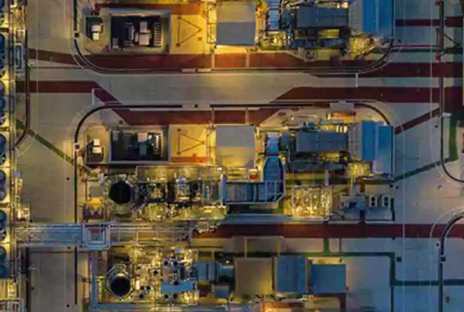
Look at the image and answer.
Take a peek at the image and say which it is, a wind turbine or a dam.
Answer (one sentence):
Looking from above, you can make out a wind turbine.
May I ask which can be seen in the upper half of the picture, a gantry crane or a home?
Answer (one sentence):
Visible in the upper half of the picture is a home.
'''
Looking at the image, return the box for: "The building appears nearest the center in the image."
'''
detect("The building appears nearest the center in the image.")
[210,127,261,166]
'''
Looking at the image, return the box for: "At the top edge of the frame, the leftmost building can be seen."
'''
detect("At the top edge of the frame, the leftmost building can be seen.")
[210,2,261,49]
